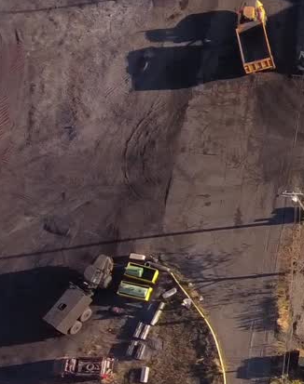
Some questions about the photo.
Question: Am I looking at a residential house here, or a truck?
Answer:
truck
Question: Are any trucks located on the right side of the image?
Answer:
Yes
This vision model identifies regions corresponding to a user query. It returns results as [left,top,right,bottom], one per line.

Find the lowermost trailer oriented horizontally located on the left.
[58,355,118,383]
